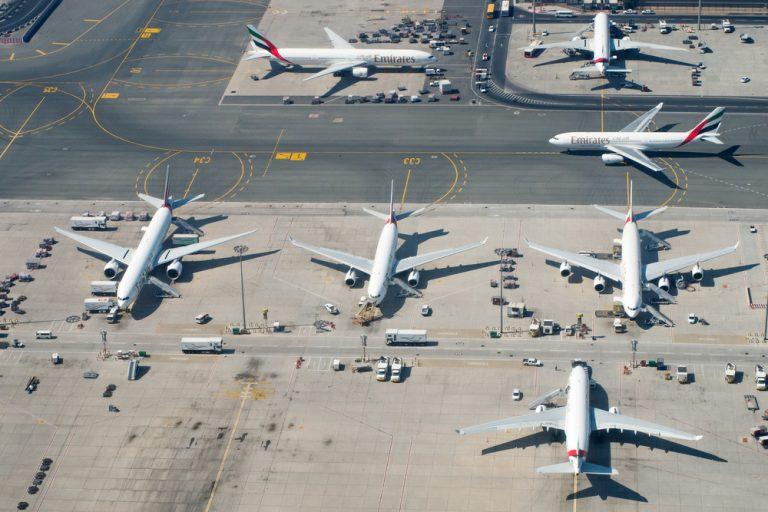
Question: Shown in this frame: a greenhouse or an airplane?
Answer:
airplane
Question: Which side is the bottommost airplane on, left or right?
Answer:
right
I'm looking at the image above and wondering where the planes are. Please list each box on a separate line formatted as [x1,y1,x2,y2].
[520,15,690,73]
[550,98,728,168]
[52,164,260,309]
[456,366,704,478]
[245,25,434,81]
[526,180,740,320]
[289,181,488,305]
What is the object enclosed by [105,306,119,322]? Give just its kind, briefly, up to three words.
work vehicle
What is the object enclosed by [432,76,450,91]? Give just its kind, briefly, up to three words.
vehicle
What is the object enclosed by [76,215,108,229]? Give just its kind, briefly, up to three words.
vehicle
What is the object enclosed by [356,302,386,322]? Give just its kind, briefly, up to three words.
work vehicle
